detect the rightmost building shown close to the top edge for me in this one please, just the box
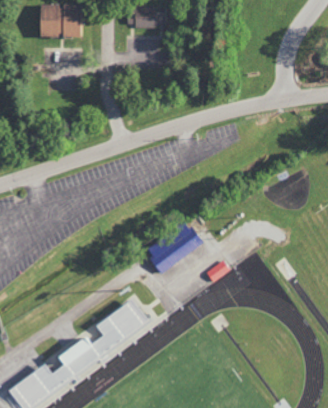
[128,4,157,30]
